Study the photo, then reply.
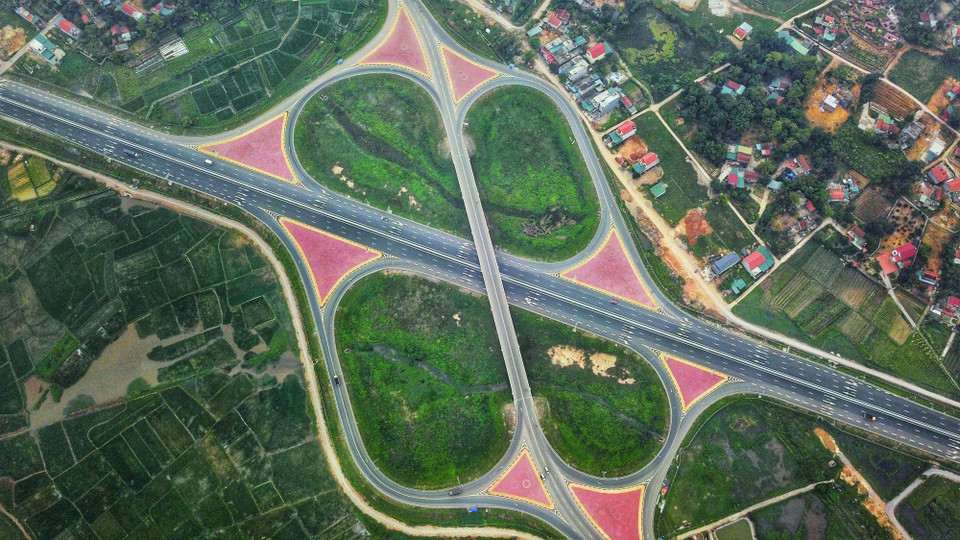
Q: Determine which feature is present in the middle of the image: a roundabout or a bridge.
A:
bridge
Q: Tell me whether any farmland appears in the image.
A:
Yes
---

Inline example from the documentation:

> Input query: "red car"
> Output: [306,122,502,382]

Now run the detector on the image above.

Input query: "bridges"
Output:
[453,150,531,397]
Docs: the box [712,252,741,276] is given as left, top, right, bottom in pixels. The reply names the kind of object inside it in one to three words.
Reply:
house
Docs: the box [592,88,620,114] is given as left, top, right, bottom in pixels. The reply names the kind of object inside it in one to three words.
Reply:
house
